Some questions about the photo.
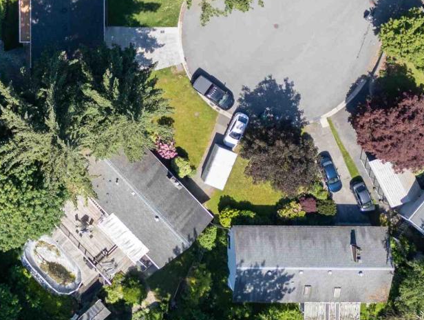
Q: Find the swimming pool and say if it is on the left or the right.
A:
left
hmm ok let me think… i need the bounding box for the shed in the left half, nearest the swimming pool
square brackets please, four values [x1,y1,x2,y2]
[77,300,111,320]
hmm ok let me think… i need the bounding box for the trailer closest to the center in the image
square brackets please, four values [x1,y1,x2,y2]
[201,143,240,191]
